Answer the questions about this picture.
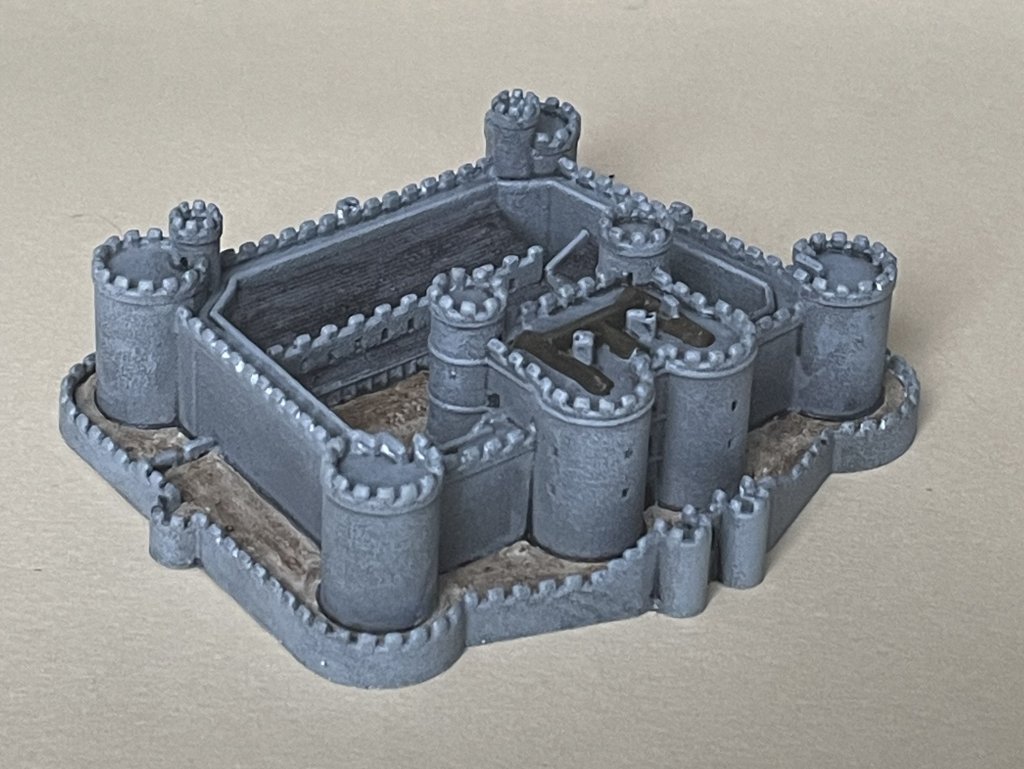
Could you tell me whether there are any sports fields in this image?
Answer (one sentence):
No, there is no sports field in the image.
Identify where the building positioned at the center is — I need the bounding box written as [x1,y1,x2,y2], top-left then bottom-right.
[58,90,919,689]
